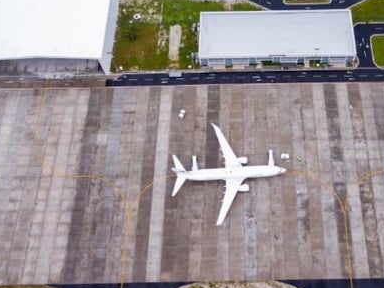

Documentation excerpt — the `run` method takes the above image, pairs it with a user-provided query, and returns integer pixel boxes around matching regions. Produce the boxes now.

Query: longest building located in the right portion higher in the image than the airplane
[199,11,356,65]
